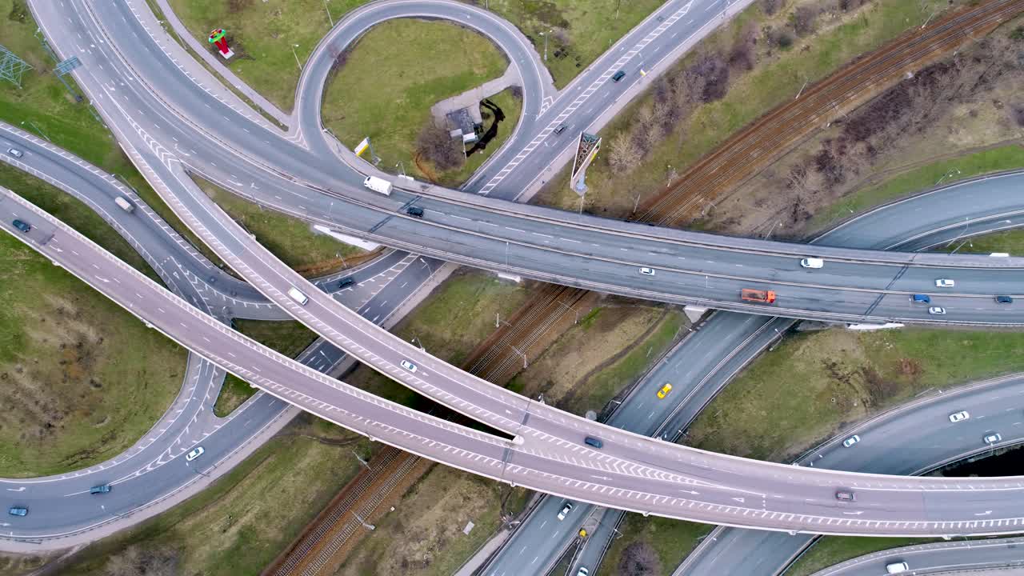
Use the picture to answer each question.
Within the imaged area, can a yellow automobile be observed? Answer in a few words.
Yes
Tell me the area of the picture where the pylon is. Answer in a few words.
top left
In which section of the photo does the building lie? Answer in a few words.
top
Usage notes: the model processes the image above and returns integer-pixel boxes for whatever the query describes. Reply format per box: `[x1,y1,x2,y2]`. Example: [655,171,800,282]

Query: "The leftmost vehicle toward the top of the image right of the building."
[552,122,567,135]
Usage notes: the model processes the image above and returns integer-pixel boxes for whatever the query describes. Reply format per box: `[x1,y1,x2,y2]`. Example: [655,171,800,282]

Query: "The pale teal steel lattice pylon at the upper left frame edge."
[0,39,34,89]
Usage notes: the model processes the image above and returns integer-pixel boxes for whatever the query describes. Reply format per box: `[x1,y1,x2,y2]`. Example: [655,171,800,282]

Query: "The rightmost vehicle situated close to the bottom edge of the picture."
[883,560,910,573]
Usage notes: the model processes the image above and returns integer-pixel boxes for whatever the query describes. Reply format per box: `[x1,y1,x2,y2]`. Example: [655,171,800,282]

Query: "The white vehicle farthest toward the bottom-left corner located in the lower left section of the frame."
[184,446,206,462]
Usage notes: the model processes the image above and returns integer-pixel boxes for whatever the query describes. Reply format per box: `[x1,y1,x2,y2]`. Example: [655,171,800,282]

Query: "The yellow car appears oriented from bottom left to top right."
[655,382,672,400]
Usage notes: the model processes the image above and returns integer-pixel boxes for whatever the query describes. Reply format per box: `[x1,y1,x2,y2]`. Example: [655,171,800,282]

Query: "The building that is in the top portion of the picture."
[446,108,476,147]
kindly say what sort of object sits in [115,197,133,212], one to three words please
vehicle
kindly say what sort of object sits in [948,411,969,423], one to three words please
vehicle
